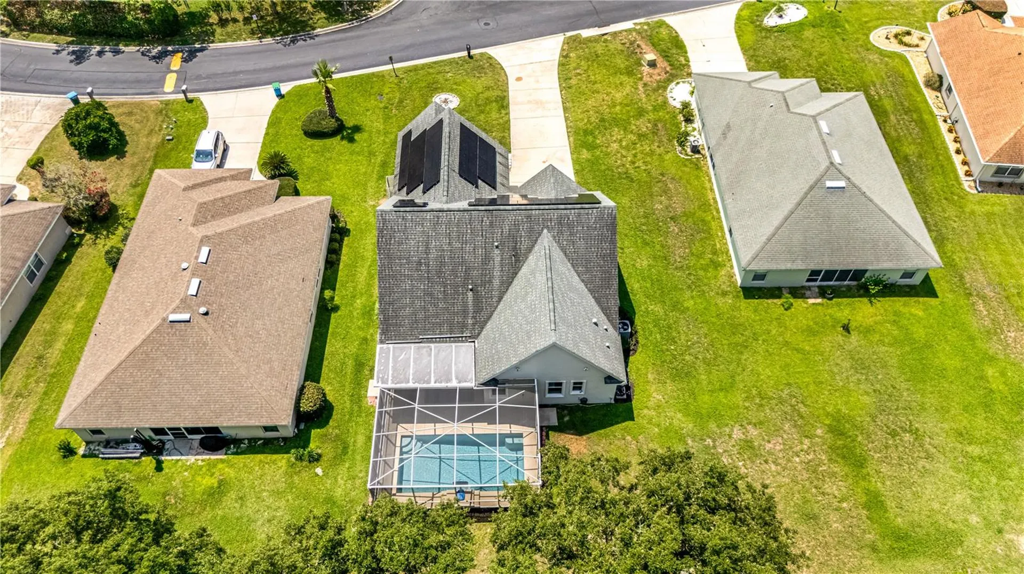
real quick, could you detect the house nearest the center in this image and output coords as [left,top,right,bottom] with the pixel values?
[368,102,626,403]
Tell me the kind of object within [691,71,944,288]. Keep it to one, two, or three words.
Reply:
house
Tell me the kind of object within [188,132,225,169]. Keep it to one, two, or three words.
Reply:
car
